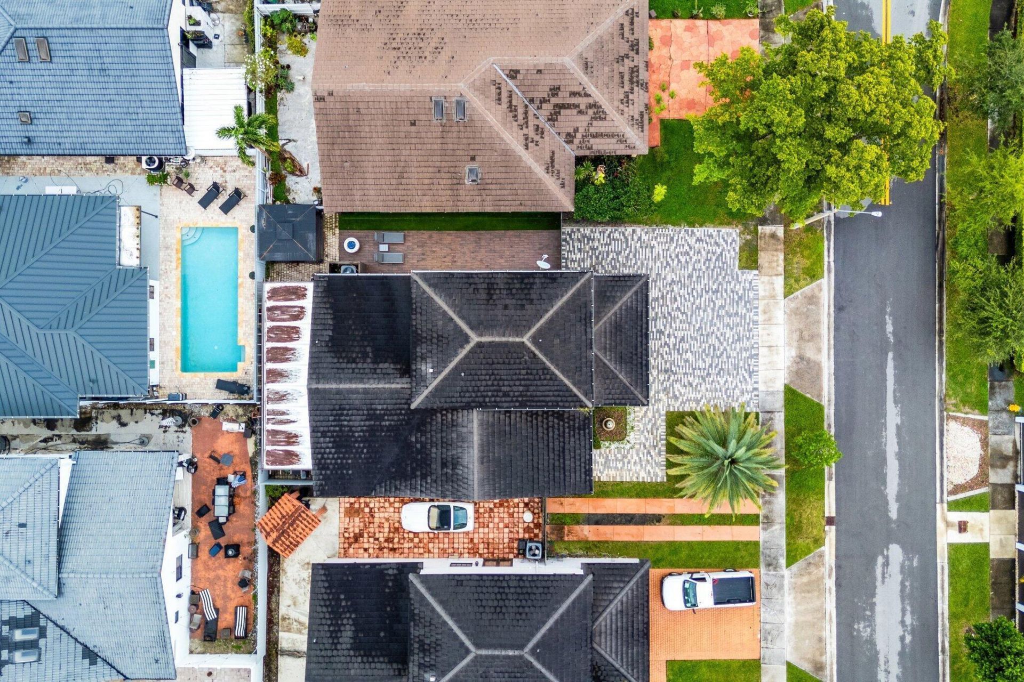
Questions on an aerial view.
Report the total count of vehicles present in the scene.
2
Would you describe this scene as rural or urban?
urban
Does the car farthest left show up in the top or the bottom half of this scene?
bottom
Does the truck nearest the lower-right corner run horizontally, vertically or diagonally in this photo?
horizontally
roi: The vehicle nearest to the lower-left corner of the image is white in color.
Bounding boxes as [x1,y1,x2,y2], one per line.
[399,503,473,540]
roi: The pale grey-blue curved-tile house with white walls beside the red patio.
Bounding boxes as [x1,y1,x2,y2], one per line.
[0,449,191,682]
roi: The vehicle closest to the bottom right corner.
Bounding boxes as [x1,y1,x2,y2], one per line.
[663,571,757,616]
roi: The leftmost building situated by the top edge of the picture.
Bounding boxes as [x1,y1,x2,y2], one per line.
[0,0,188,156]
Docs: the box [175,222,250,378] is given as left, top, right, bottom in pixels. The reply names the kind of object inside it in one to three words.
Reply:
swimming pool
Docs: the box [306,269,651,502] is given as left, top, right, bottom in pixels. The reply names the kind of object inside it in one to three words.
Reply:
house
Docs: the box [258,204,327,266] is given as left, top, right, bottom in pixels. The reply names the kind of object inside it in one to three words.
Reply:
gazebo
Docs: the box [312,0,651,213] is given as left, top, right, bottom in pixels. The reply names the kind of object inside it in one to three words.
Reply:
house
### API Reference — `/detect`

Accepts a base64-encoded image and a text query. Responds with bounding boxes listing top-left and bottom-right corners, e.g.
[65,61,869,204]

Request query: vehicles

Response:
[399,503,473,540]
[663,571,757,616]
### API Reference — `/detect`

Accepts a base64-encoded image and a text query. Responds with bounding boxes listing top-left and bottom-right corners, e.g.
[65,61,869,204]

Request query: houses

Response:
[306,554,651,682]
[0,193,159,419]
[0,449,191,682]
[312,0,651,213]
[306,269,651,502]
[0,0,188,156]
